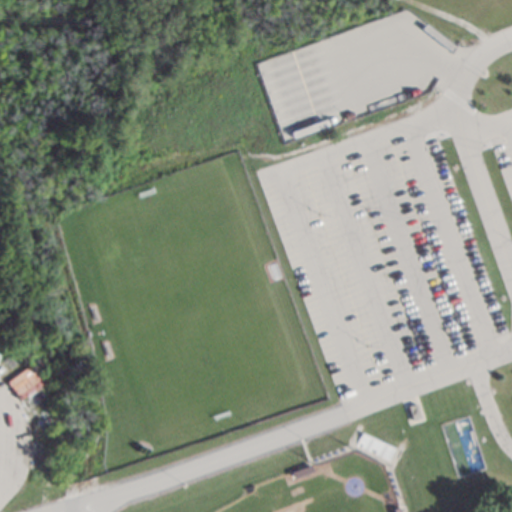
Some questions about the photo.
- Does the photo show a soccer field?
Yes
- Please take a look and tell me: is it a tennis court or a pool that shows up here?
pool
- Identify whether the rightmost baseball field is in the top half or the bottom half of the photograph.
bottom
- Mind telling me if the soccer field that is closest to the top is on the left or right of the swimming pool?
to the left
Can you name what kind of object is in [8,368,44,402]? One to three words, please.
house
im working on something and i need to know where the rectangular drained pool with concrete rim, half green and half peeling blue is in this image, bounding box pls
[442,415,487,478]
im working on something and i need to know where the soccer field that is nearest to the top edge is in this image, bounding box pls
[60,152,326,470]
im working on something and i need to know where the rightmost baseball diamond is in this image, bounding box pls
[211,452,399,512]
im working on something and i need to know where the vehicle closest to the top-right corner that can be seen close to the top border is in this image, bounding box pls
[416,22,456,52]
